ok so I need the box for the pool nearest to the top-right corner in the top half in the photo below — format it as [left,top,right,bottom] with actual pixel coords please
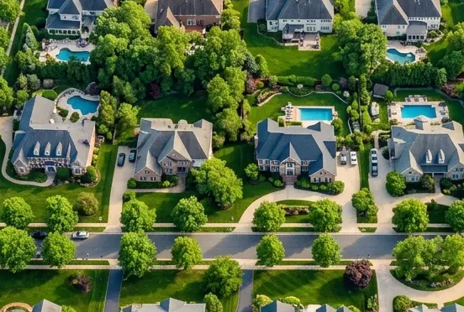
[386,47,415,63]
